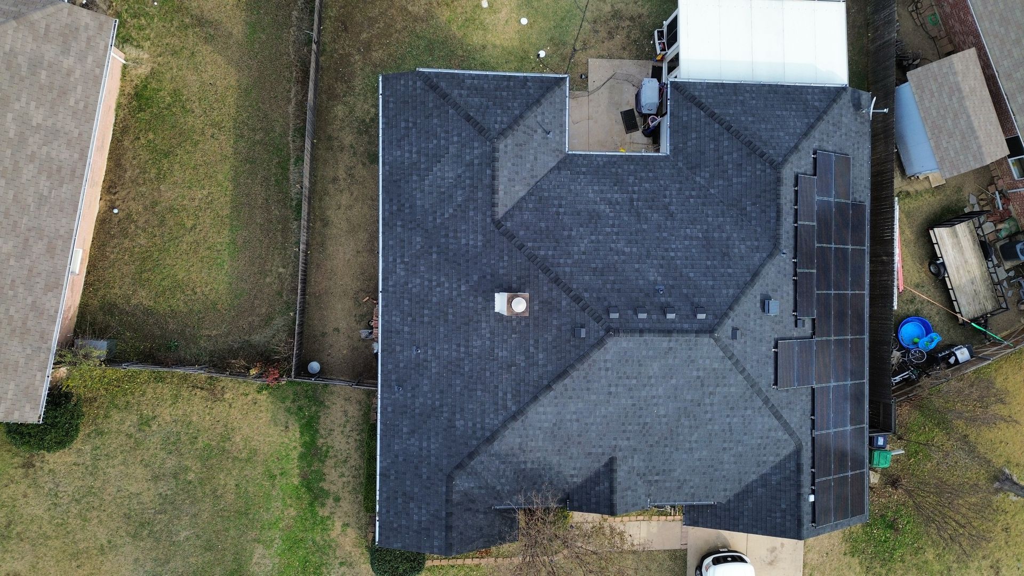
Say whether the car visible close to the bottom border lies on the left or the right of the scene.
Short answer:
right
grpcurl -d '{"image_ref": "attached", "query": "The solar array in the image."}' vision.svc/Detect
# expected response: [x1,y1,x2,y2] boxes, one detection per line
[774,151,868,528]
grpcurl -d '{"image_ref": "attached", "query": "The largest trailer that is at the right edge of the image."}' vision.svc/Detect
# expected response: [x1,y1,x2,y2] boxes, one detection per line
[928,199,1010,345]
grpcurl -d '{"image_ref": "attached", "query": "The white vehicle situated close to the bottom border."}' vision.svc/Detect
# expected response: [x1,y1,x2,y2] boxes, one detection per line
[697,546,753,576]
